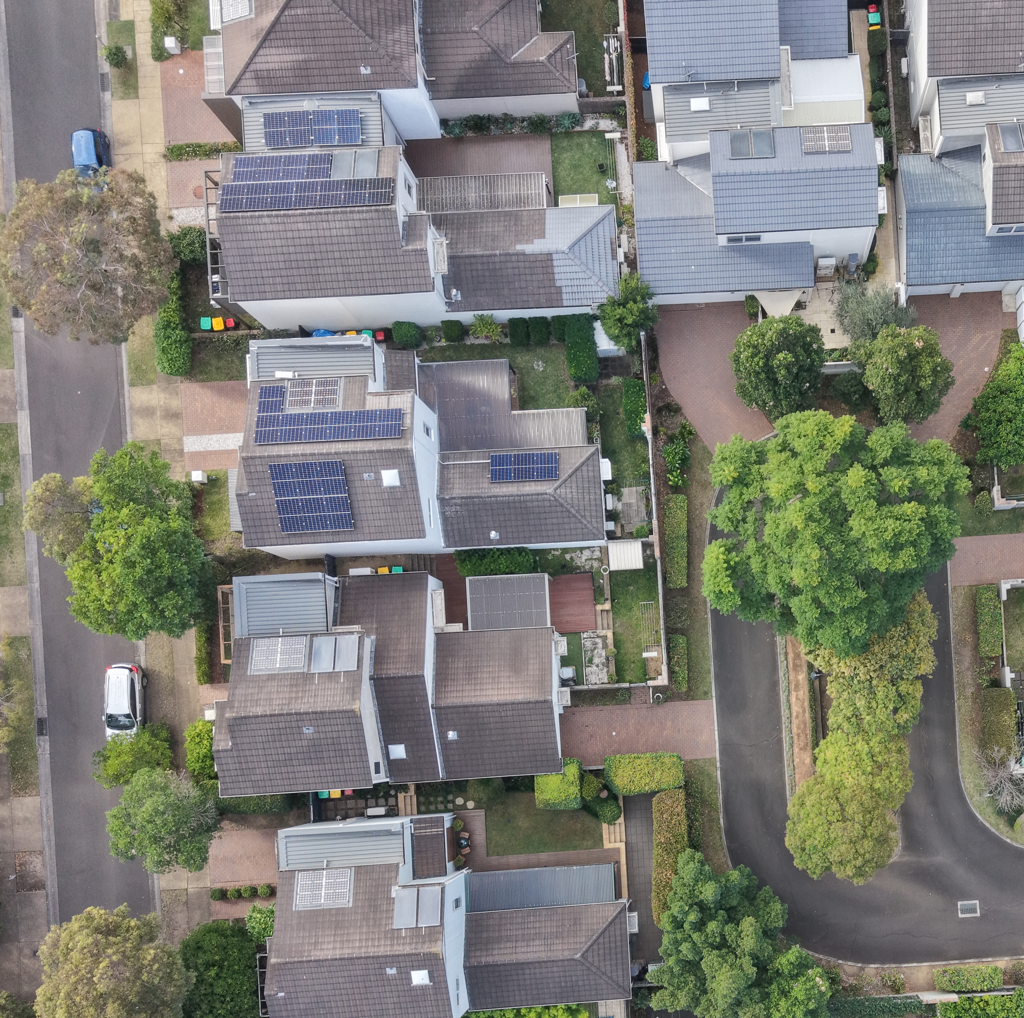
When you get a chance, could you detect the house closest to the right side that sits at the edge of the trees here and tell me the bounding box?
[898,0,1024,297]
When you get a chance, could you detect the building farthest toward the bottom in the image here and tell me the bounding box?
[257,813,638,1018]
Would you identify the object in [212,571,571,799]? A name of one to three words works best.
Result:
house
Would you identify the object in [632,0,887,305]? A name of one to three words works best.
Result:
house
